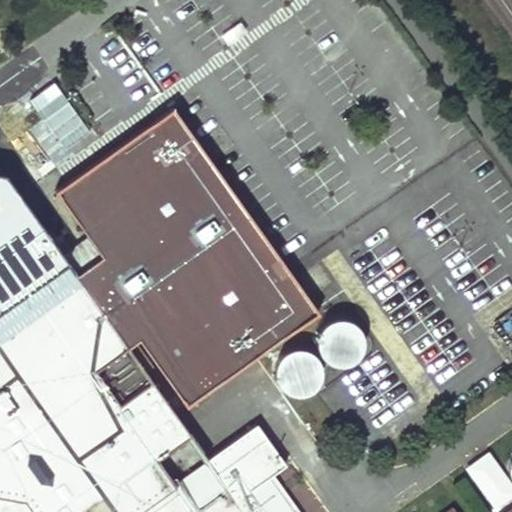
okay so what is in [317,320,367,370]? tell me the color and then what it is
white storage tank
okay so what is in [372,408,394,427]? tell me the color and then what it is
white vehicle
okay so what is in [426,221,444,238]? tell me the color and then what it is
white car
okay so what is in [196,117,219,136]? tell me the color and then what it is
white vehicle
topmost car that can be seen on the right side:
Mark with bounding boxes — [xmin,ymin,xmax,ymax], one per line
[317,32,340,50]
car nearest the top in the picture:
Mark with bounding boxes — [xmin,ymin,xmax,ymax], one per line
[176,1,198,19]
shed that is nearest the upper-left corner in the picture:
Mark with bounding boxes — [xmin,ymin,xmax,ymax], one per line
[31,84,90,157]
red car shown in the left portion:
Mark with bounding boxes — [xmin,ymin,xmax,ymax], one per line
[161,72,181,89]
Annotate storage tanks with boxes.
[276,350,325,400]
[317,320,367,370]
